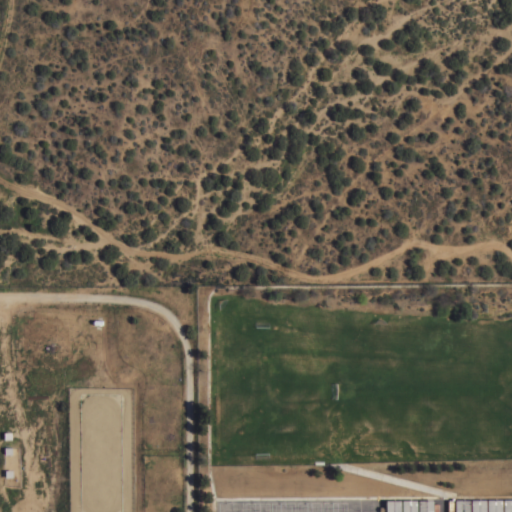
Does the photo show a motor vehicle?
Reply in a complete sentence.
No, the picture doesn't show any motor vehicle.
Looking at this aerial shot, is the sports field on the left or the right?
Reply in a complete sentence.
You can find the sports field on the right side of the picture.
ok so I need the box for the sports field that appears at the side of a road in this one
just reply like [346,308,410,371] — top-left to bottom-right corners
[210,295,512,466]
